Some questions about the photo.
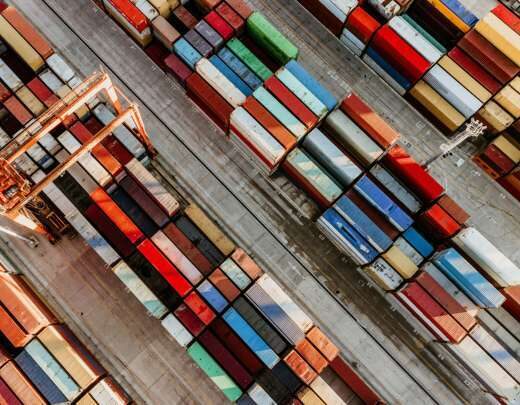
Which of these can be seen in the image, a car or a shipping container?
shipping container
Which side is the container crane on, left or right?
left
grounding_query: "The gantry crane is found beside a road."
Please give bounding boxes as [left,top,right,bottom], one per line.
[0,64,160,249]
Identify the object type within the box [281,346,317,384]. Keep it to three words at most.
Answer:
shipping container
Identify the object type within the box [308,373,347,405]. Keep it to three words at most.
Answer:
shipping container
